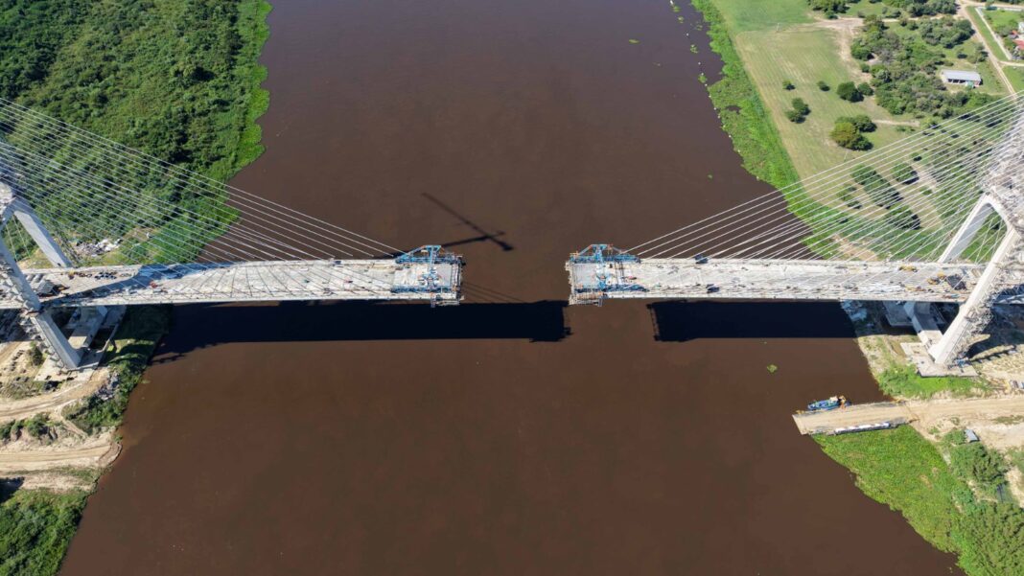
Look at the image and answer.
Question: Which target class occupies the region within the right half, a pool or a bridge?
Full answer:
The one visible within the right half is a bridge.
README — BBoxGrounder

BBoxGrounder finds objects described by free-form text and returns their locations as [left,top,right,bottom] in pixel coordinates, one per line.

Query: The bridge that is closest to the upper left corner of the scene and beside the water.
[0,111,452,387]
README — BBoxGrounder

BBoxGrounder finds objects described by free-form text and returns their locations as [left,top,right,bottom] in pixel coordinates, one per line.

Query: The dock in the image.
[791,399,910,439]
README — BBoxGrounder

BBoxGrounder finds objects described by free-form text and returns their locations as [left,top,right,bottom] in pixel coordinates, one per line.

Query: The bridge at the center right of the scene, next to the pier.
[581,90,1024,386]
